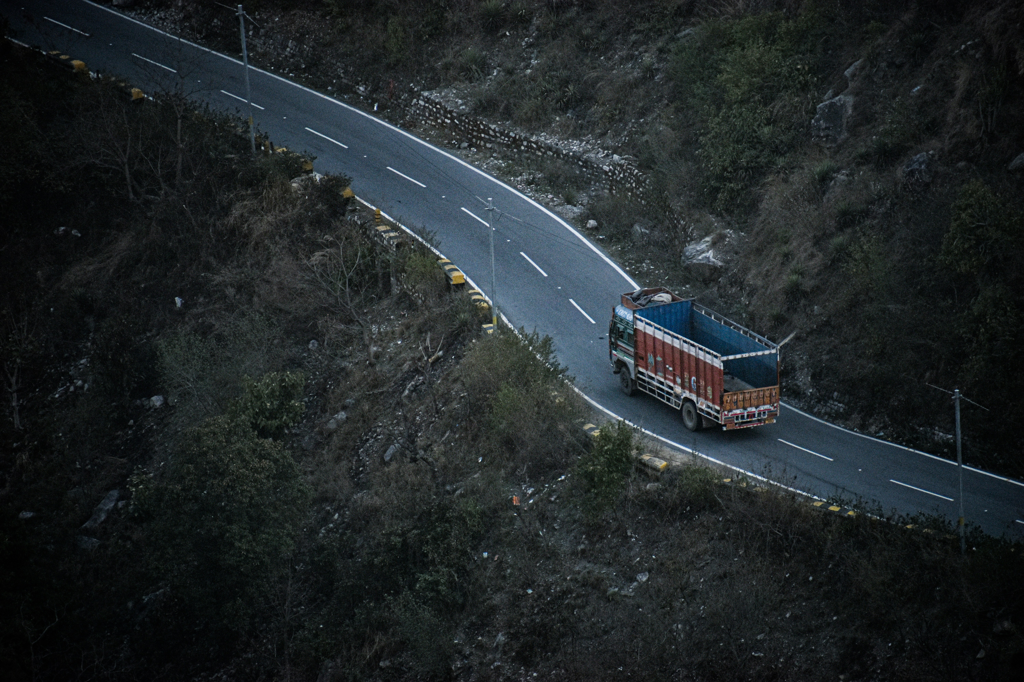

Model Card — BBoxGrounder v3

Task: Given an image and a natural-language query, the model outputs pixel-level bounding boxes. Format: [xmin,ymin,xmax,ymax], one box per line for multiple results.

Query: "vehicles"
[606,287,801,433]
